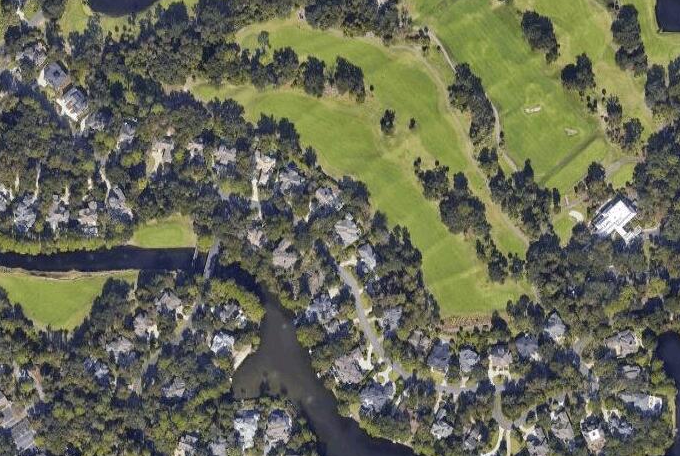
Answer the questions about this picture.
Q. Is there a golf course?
Yes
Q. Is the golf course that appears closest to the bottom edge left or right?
left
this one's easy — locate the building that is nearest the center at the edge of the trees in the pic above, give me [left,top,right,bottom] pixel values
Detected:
[333,215,363,246]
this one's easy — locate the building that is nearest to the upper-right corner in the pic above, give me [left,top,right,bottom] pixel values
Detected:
[593,197,646,240]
